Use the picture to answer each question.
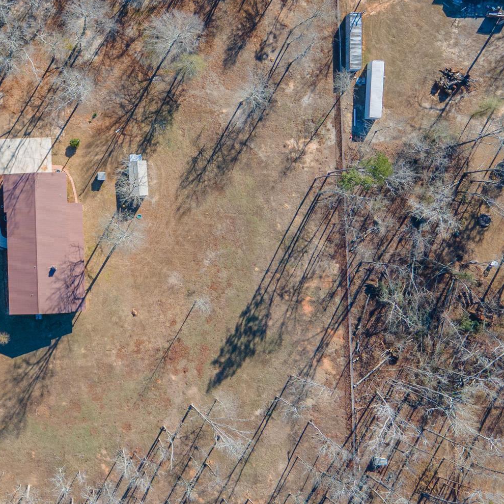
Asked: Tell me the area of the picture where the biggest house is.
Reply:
left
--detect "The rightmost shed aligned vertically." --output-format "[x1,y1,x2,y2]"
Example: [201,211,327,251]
[128,155,149,197]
